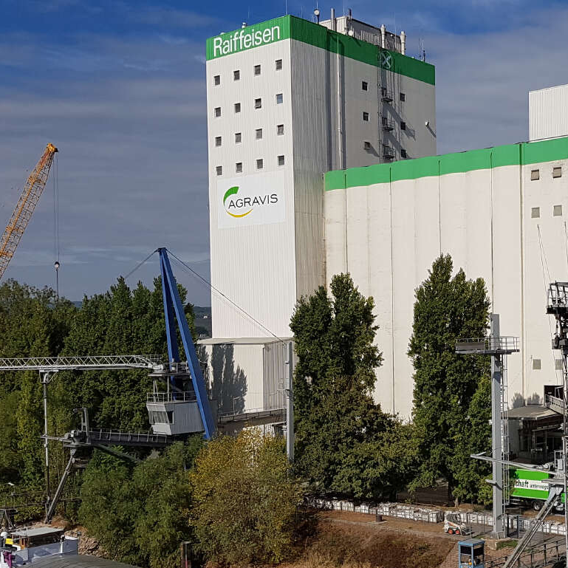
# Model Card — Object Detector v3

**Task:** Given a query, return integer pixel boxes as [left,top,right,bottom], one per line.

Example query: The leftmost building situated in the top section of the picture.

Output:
[206,0,437,433]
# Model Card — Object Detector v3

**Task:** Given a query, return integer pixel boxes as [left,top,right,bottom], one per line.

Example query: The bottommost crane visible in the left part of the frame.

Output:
[0,244,289,526]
